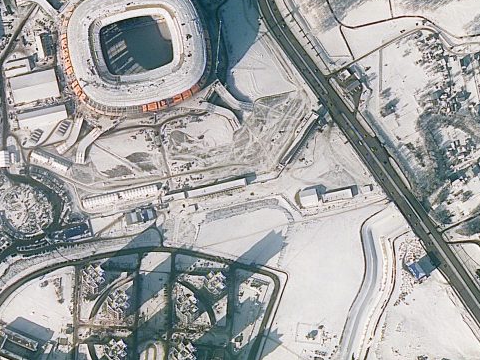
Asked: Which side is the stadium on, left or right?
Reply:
left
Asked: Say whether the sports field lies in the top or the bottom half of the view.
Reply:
top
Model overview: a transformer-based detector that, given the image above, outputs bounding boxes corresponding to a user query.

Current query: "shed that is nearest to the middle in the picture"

[188,178,246,198]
